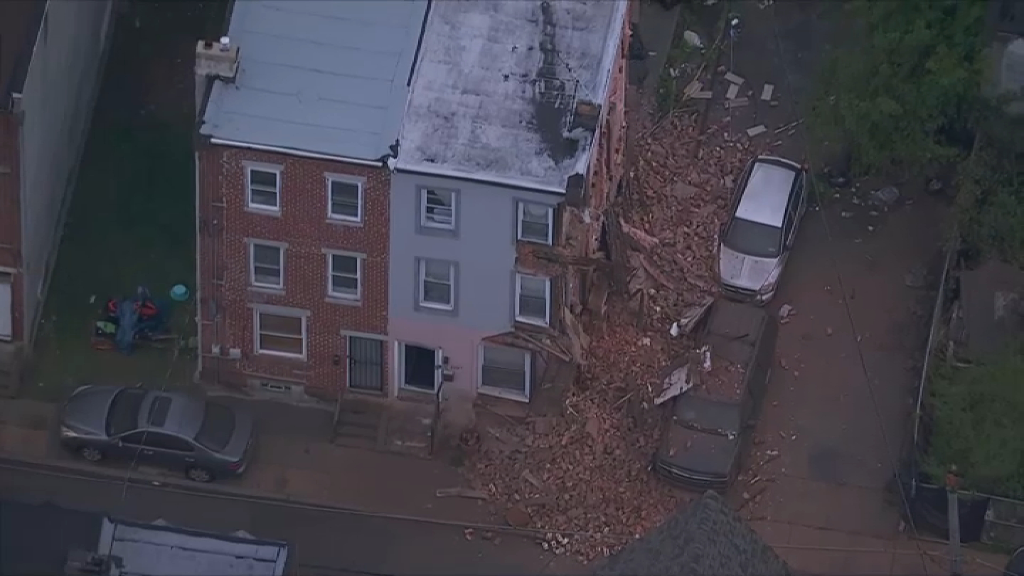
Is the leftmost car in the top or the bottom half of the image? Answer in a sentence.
It is in the bottom half that the leftmost car appears.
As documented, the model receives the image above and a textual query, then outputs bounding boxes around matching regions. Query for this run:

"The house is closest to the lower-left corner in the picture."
[0,499,103,576]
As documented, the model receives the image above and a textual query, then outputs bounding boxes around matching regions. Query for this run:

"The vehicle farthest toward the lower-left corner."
[58,374,258,481]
